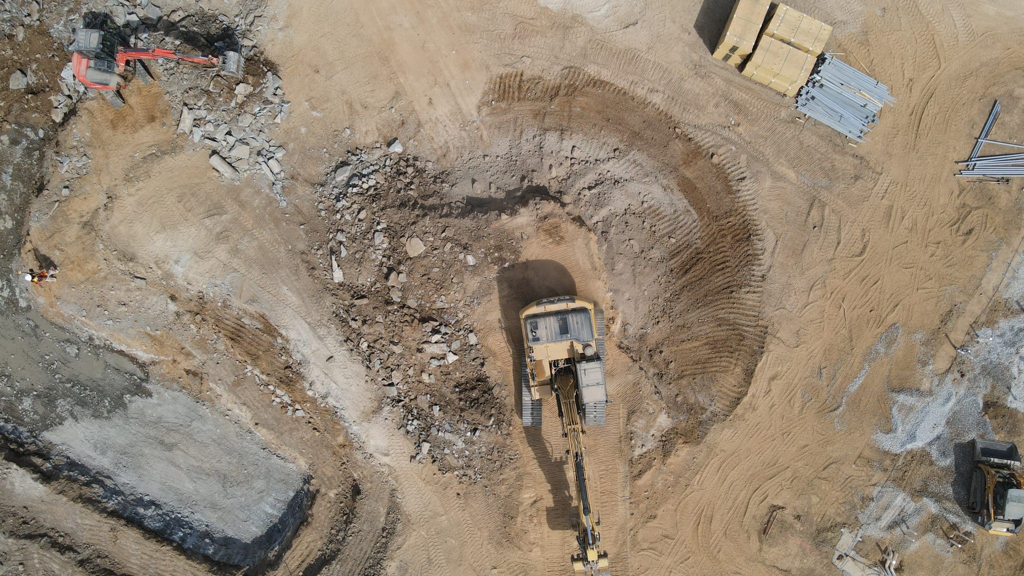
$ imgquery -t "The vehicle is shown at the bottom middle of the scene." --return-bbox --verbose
[520,296,614,576]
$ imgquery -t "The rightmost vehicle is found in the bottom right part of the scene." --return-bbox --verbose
[964,436,1024,536]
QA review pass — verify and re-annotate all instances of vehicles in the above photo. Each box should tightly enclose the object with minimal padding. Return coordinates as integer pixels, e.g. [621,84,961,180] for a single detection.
[520,296,614,576]
[964,436,1024,536]
[73,29,246,109]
